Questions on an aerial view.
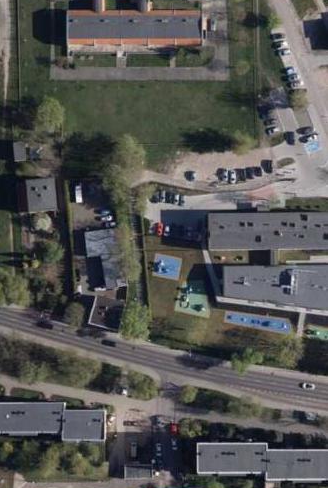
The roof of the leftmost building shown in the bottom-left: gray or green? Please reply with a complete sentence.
The roof of the leftmost building shown in the bottom-left is gray.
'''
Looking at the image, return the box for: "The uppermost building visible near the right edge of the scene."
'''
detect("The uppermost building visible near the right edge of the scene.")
[209,202,328,250]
